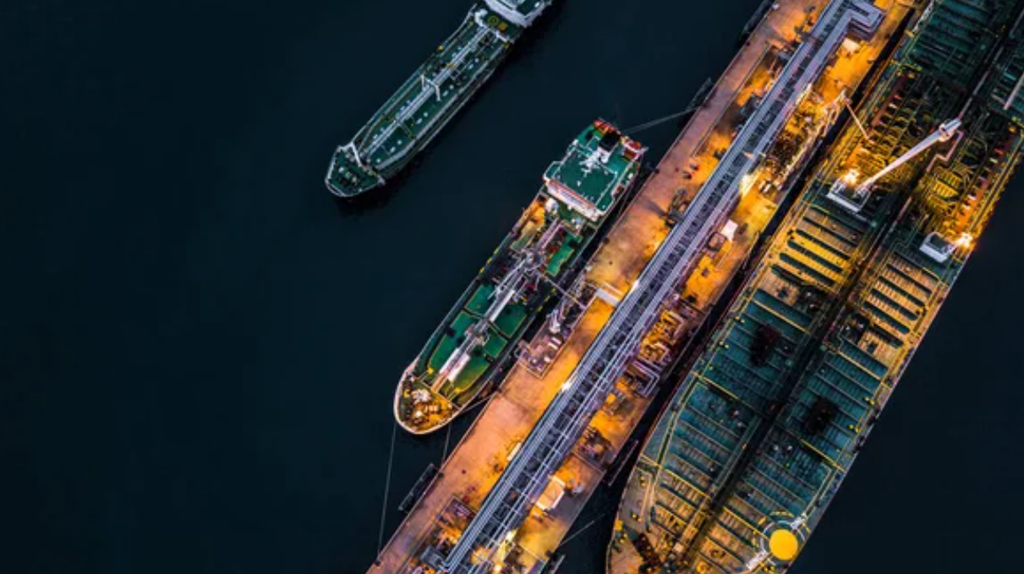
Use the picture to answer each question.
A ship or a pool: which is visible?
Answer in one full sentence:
This aerial view contains a ship.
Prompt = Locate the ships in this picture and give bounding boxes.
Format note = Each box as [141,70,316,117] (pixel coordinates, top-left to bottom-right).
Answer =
[606,0,1024,574]
[394,114,653,438]
[325,0,560,203]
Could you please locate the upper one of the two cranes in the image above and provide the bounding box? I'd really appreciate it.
[853,123,969,195]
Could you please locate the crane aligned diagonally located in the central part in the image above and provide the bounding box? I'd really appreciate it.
[485,234,537,294]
